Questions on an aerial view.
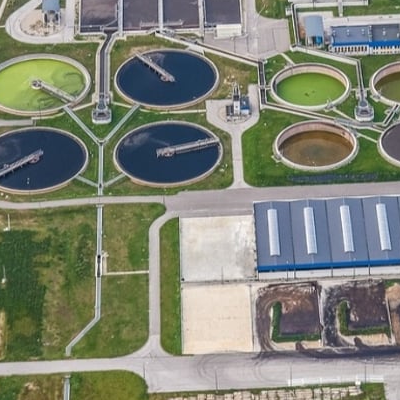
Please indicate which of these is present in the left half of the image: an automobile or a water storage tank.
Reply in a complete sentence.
Visible in the left half of the image is a water storage tank.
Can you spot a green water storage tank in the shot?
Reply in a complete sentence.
Yes, the picture does show a green water storage tank.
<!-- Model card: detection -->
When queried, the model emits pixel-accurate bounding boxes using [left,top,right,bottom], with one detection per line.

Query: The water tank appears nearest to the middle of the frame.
[112,120,223,187]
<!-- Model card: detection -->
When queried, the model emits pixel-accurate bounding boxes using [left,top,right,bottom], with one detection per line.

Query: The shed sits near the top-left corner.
[42,0,62,27]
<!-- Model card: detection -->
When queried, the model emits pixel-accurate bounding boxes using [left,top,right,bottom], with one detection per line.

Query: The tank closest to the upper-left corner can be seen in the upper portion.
[0,51,91,115]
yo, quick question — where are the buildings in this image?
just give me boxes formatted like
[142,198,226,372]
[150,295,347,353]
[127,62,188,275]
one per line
[304,16,323,48]
[42,0,62,27]
[215,24,243,43]
[217,88,257,121]
[329,23,400,55]
[253,190,400,283]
